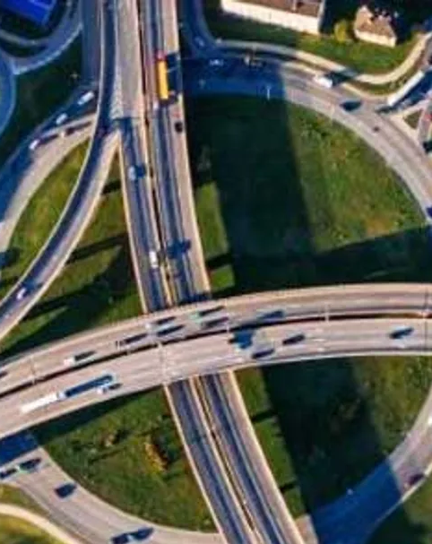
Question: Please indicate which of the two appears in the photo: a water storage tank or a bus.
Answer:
bus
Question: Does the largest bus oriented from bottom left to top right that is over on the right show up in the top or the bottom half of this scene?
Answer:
top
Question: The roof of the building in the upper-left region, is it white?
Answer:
No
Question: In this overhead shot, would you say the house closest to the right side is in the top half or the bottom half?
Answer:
top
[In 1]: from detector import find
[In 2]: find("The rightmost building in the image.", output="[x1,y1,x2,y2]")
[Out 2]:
[353,4,404,47]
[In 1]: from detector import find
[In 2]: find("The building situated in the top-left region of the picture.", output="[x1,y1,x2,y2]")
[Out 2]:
[0,0,63,29]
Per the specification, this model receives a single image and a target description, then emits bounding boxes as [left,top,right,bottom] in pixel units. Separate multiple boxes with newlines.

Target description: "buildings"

[353,4,404,47]
[0,0,63,29]
[226,0,324,33]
